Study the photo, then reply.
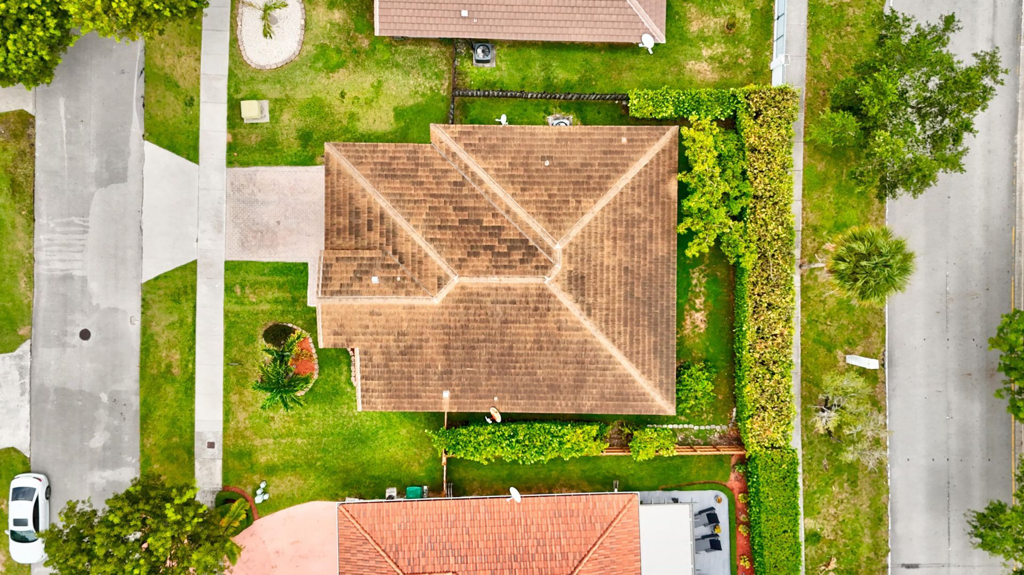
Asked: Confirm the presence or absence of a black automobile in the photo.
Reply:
No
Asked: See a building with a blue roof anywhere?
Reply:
No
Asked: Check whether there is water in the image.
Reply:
No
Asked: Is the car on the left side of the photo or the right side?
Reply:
left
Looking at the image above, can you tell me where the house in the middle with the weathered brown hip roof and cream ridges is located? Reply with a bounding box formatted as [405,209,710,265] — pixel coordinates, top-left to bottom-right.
[313,124,679,415]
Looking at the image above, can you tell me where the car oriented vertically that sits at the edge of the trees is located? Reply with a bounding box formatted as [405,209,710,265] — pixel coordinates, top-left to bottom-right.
[5,474,56,564]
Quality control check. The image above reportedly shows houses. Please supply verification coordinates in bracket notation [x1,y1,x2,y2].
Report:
[335,485,644,575]
[370,0,667,44]
[313,124,679,415]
